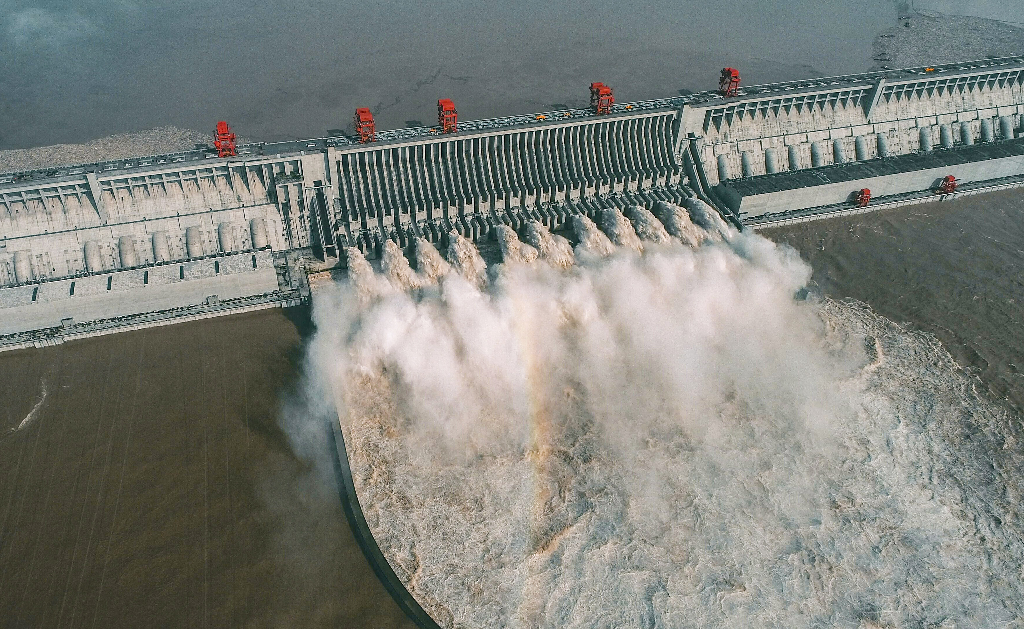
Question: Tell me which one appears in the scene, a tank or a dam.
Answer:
dam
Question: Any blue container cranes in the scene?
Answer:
No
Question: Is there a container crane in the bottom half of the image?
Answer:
No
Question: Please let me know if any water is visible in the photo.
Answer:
Yes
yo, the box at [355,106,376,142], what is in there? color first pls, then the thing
red container crane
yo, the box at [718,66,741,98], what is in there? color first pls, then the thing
red container crane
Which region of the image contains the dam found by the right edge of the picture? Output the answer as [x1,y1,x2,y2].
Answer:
[704,68,1024,197]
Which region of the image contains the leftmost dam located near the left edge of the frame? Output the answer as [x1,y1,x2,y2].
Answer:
[0,159,286,286]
